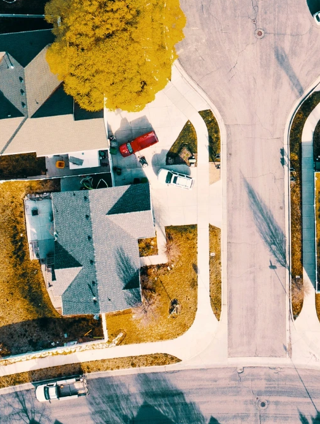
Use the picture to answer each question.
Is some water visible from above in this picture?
No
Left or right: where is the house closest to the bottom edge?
left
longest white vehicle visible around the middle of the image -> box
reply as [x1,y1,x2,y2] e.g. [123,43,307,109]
[155,168,196,191]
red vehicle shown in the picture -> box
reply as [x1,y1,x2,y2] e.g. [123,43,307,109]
[119,129,160,158]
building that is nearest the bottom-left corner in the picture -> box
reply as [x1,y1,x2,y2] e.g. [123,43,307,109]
[47,182,156,315]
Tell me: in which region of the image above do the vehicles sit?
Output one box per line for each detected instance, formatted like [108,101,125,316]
[119,129,160,158]
[313,11,320,26]
[137,155,149,168]
[36,380,87,403]
[155,168,196,191]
